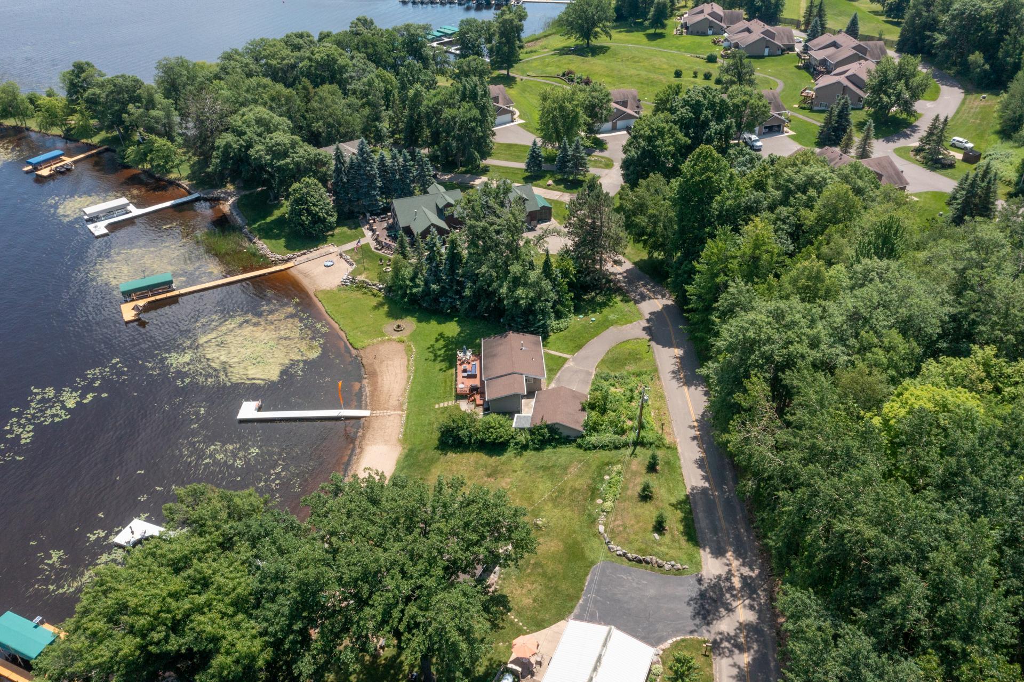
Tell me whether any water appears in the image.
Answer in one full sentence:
Yes, water can be seen from above here.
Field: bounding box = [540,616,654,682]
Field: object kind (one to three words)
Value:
building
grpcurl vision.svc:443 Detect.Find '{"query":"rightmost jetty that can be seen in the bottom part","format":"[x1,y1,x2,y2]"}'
[237,402,371,422]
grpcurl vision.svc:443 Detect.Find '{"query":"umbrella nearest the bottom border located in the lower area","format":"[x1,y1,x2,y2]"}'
[511,637,538,664]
